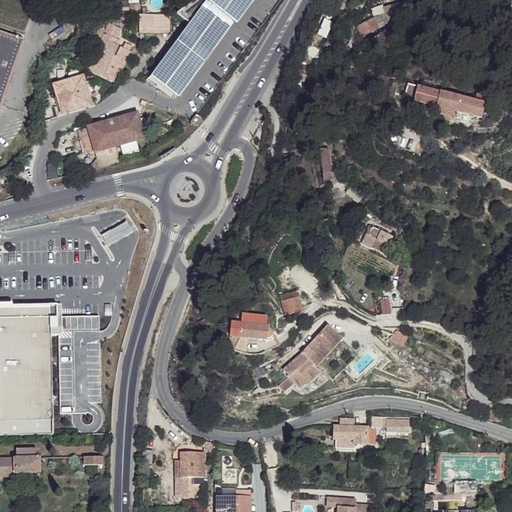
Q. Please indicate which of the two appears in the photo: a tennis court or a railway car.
tennis court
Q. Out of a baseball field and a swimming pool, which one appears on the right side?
swimming pool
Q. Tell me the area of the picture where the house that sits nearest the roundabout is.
top left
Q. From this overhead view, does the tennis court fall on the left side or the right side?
right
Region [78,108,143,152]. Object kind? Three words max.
house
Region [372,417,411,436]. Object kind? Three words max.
house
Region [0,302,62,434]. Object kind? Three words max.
building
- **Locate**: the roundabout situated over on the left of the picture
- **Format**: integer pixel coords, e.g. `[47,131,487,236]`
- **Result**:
[154,152,220,230]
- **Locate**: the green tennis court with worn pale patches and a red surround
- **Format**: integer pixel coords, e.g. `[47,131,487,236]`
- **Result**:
[436,452,506,484]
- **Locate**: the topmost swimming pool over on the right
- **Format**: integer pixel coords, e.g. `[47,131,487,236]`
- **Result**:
[346,346,390,382]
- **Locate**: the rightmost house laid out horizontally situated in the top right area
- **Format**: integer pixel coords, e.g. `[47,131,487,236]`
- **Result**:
[414,84,486,118]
